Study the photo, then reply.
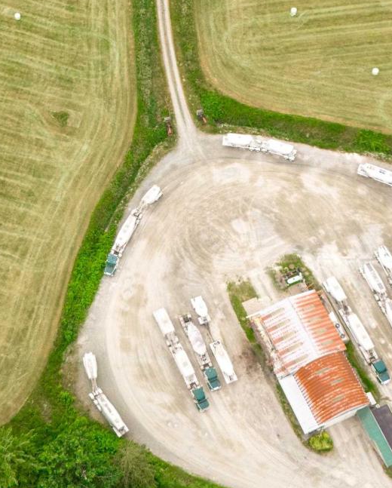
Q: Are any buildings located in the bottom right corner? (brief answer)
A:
Yes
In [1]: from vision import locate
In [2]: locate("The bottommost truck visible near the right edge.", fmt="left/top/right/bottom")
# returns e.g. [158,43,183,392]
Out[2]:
[370,343,392,387]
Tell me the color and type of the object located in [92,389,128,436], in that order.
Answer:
white trailer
